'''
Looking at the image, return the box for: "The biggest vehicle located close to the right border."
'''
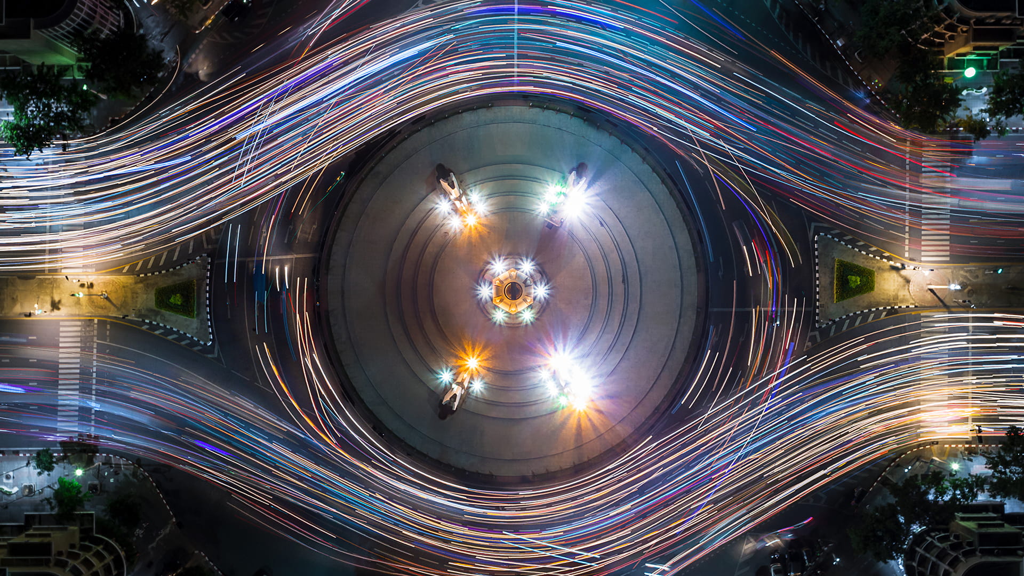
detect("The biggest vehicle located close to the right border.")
[958,174,1019,189]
